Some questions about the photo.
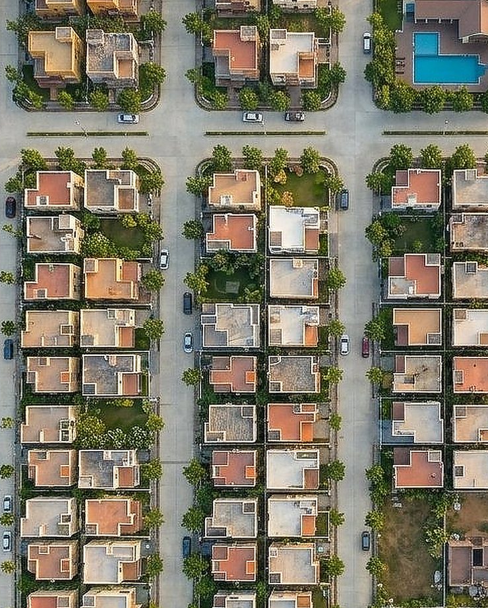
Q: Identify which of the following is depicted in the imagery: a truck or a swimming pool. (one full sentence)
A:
The one in the frame is a swimming pool.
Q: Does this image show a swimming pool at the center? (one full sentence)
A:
No, there is no swimming pool at the center.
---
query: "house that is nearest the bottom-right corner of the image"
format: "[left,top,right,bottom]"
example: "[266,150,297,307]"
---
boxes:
[446,538,488,587]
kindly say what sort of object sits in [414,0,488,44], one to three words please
building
